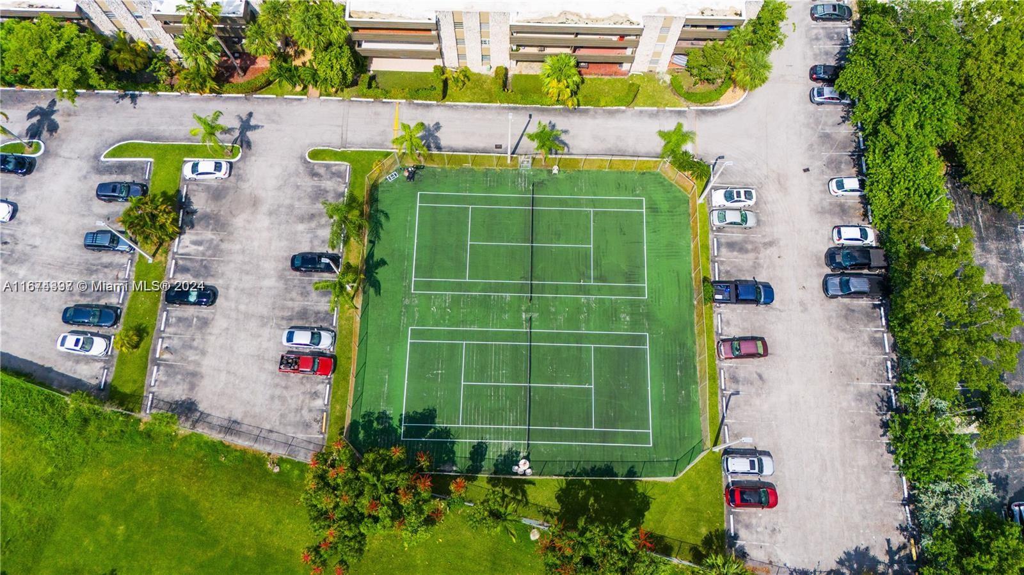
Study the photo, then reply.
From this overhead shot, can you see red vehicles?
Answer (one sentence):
Yes, I can see a red vehicle in this picture.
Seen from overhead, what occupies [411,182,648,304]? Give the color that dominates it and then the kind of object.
green tennis court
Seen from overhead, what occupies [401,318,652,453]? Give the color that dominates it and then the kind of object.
green tennis court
